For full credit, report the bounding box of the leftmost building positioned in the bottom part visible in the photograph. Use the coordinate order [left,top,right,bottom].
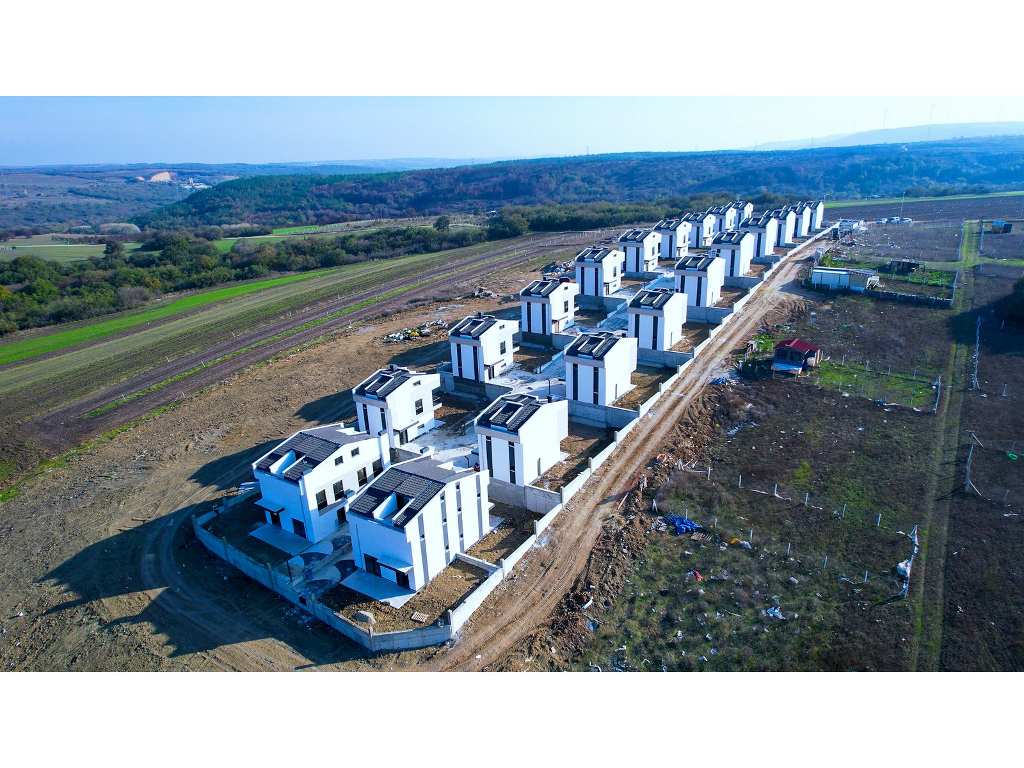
[255,424,393,539]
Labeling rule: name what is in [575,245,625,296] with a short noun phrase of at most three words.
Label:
house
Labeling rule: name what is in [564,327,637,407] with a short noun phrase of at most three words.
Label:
house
